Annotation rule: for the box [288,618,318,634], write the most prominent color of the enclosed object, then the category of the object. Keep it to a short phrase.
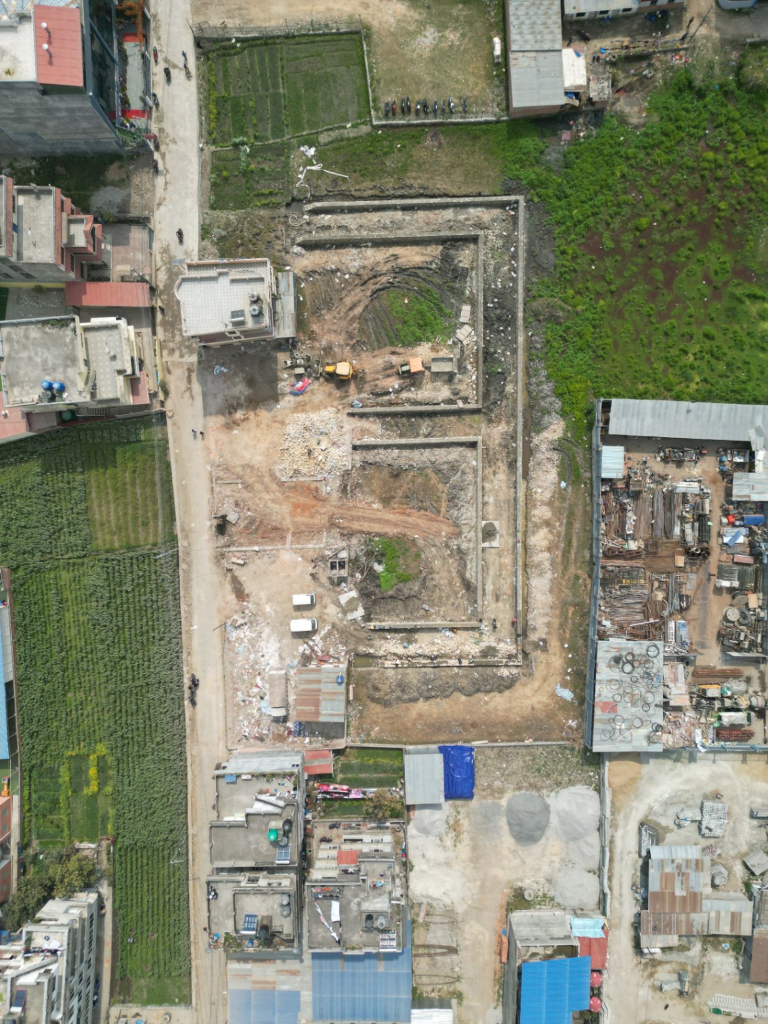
white vehicle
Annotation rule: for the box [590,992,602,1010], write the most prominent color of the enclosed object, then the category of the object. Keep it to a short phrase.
pink umbrella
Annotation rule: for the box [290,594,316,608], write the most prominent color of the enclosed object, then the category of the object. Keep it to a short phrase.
white vehicle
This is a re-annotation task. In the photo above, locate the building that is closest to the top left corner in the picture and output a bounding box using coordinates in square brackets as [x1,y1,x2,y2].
[0,0,127,145]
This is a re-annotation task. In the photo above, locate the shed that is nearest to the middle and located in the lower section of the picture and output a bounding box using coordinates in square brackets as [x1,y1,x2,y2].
[295,663,347,722]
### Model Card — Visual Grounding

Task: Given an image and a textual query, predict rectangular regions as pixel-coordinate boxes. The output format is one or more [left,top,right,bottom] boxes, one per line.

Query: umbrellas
[590,969,602,985]
[590,992,602,1010]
